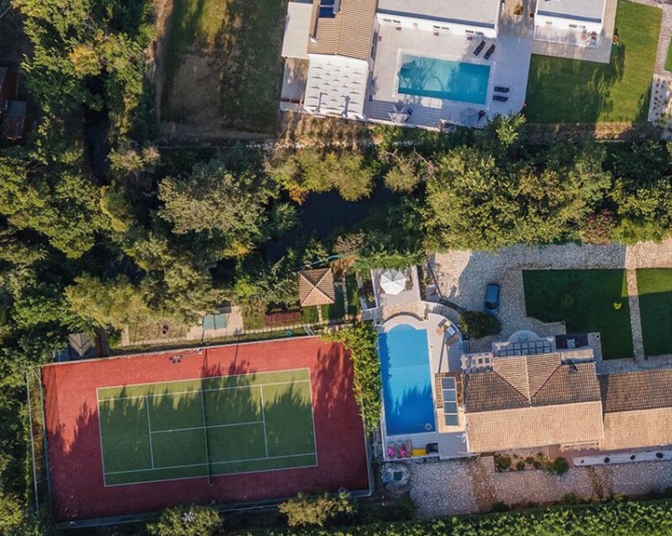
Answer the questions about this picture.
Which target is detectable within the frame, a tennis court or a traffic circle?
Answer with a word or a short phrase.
tennis court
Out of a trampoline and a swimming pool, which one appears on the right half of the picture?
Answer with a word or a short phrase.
swimming pool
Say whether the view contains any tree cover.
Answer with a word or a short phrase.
Yes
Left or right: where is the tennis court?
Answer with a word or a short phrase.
left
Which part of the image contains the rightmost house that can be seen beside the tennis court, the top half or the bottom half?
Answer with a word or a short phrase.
bottom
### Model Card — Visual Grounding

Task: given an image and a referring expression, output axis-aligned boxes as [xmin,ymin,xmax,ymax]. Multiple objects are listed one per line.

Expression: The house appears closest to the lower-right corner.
[435,330,672,467]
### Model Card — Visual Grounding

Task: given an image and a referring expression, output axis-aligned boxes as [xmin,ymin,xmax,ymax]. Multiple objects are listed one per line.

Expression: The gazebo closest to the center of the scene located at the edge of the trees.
[298,269,338,307]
